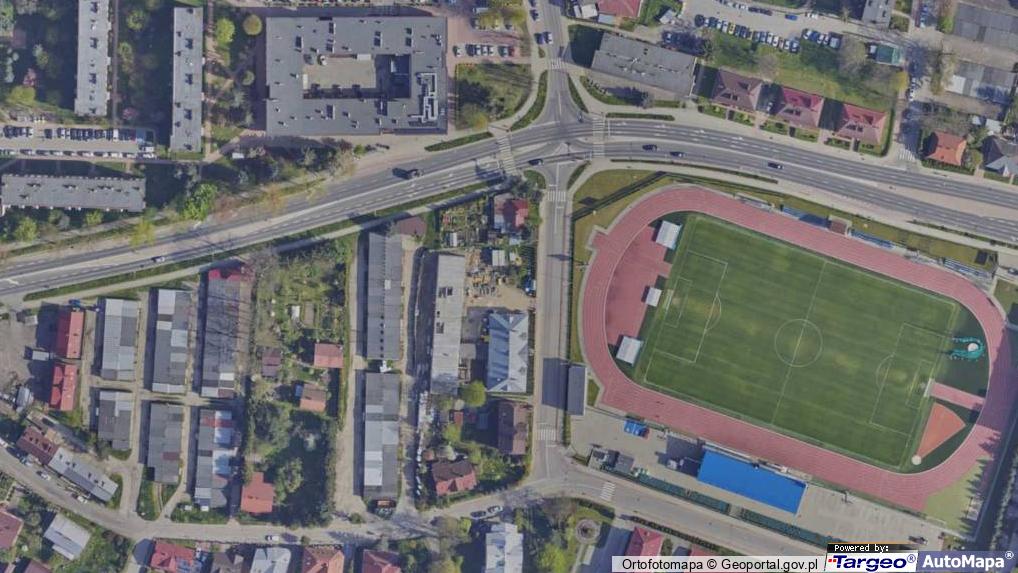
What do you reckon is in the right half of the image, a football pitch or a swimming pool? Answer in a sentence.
The one visible in the right half of the image is a football pitch.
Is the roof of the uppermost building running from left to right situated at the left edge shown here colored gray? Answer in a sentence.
Yes, the roof of the uppermost building running from left to right situated at the left edge appears gray.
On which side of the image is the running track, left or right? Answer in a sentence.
It is on the right.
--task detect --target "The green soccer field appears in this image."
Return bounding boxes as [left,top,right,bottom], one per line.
[635,217,958,469]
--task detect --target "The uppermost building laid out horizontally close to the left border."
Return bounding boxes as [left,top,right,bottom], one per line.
[1,173,148,212]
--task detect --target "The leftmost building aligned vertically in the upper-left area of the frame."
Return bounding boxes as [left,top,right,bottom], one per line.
[75,0,113,117]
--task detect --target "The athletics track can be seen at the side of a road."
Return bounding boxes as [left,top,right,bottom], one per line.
[577,188,1018,508]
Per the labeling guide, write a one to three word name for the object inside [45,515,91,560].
house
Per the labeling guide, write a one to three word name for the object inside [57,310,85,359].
building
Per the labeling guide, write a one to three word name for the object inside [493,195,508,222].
house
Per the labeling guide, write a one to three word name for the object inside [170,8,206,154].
building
